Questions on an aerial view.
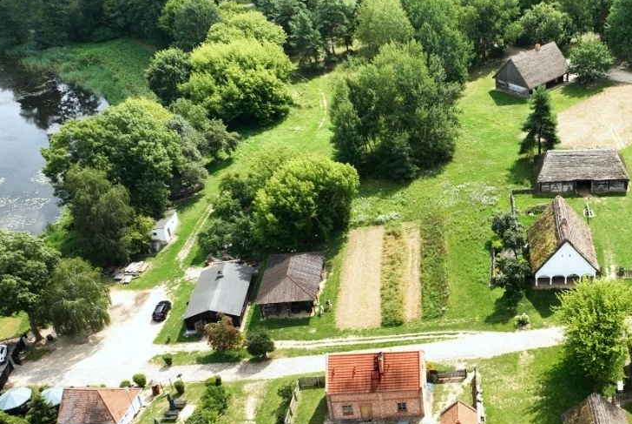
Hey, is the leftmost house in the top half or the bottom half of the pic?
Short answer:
bottom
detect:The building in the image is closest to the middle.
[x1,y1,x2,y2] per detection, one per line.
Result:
[255,254,323,320]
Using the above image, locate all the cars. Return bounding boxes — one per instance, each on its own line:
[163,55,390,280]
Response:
[0,342,13,359]
[148,300,173,320]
